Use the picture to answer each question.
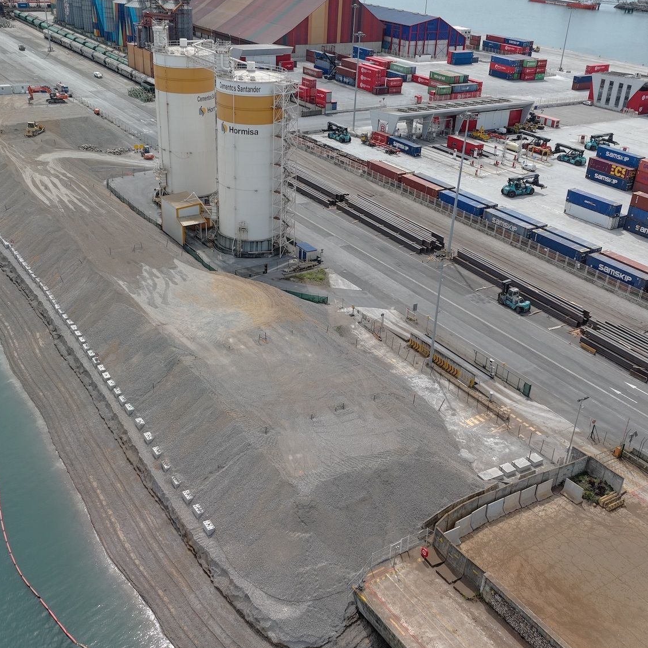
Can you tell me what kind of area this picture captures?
industrial area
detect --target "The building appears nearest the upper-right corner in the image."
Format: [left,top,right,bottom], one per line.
[593,70,648,116]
